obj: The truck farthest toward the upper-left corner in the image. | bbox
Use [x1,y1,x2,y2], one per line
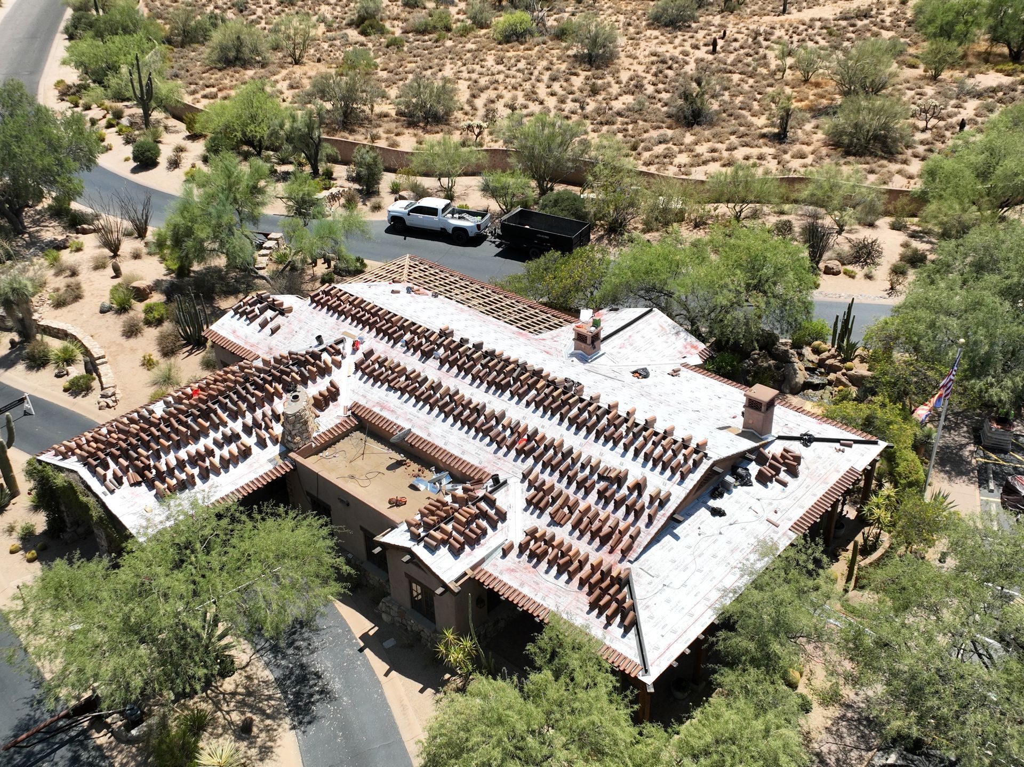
[383,193,495,245]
